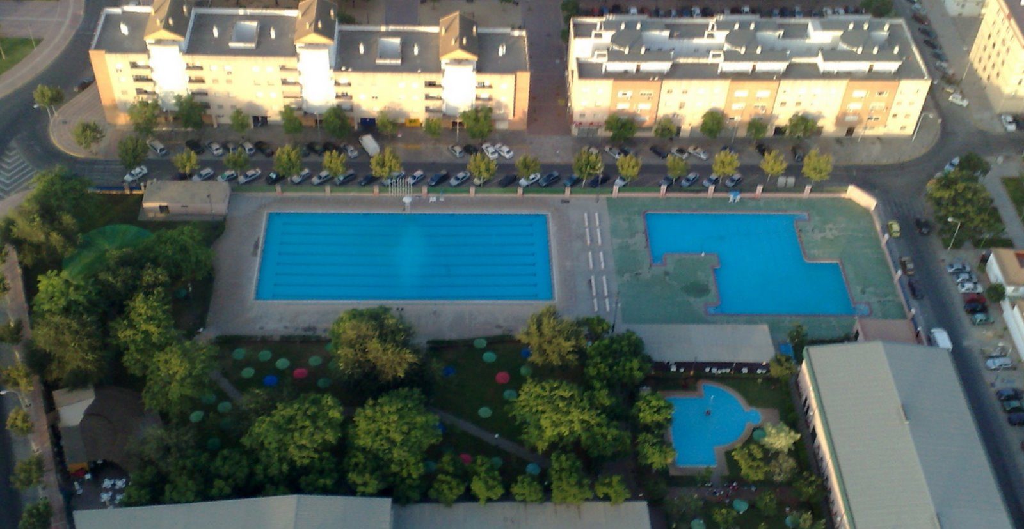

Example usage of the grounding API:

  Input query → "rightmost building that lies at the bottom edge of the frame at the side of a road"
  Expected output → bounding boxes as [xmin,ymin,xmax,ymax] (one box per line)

[796,336,1017,529]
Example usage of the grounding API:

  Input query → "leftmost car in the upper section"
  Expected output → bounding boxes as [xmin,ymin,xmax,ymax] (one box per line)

[73,78,95,92]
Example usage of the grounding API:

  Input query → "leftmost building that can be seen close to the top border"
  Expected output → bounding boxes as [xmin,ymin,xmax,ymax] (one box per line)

[91,0,530,132]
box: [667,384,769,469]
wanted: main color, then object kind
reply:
blue swimming pool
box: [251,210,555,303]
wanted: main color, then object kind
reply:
blue swimming pool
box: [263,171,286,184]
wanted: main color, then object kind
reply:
black vehicle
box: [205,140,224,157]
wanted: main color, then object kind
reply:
gray car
